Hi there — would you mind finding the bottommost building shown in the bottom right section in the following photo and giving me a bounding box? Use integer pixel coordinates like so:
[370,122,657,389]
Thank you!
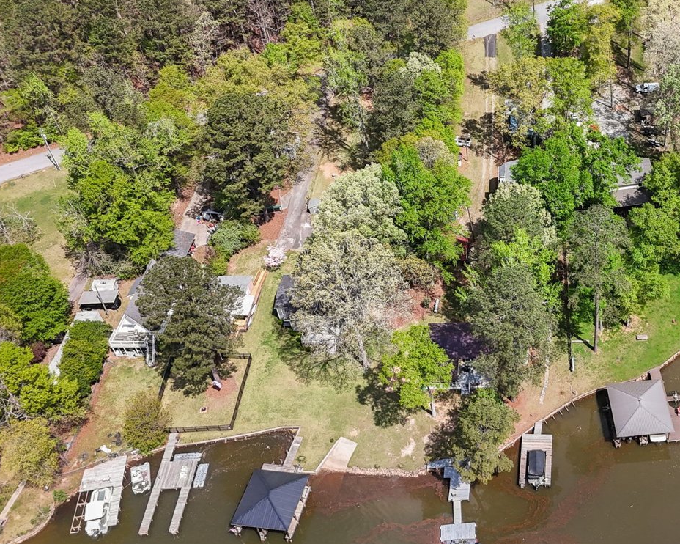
[604,379,677,457]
